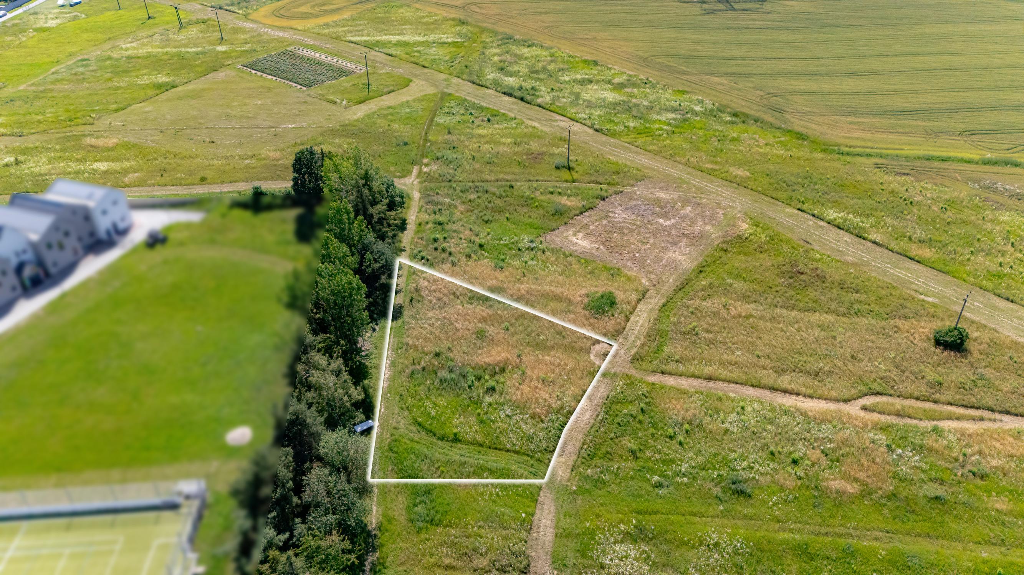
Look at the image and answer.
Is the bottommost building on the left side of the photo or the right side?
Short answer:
left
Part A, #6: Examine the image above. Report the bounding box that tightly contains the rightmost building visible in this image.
[174,477,207,498]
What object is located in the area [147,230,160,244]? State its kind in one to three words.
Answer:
vehicle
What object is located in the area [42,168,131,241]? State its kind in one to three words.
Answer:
house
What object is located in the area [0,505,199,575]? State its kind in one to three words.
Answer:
sports court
